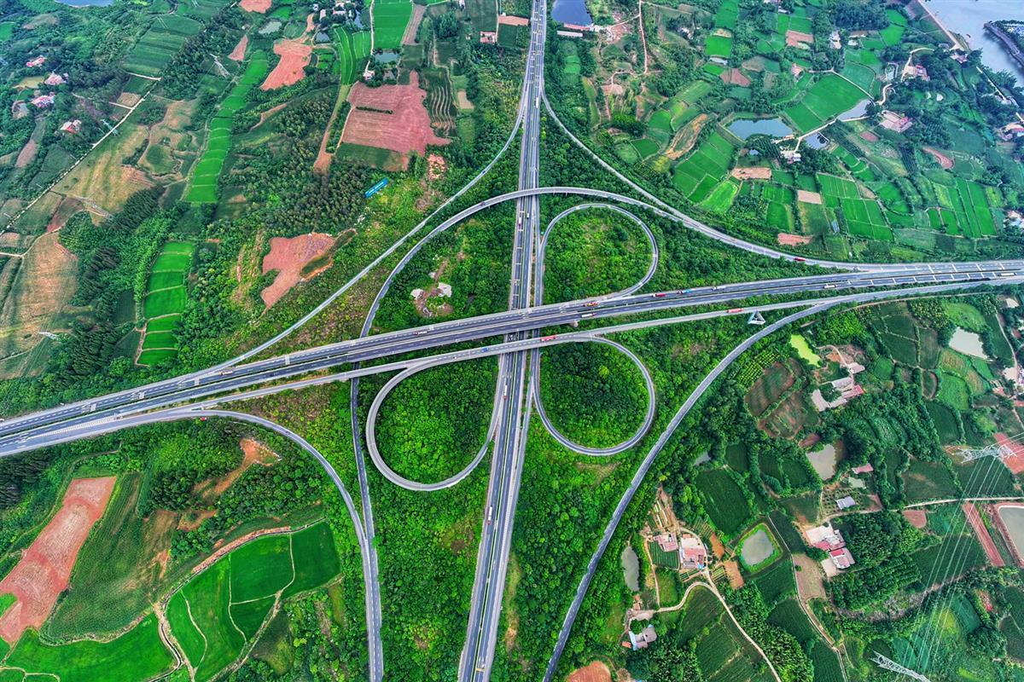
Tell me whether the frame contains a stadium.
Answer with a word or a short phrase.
No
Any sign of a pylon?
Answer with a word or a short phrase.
Yes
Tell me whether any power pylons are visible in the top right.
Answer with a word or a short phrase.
No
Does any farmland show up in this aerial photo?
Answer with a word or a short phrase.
Yes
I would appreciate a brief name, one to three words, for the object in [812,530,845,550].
house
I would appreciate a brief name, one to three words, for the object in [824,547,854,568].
house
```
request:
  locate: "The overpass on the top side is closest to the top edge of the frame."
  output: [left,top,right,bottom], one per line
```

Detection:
[405,188,741,260]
